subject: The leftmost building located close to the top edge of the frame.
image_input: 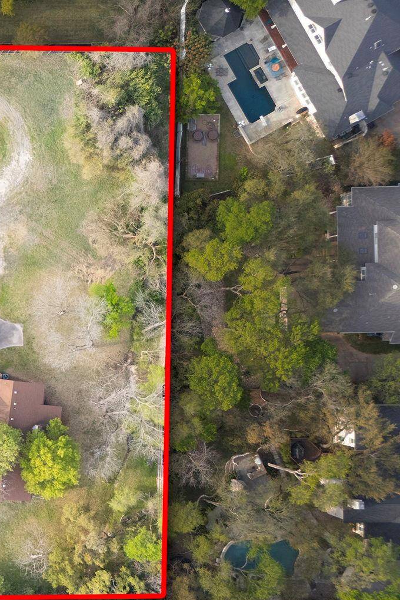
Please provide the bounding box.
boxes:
[194,0,241,41]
